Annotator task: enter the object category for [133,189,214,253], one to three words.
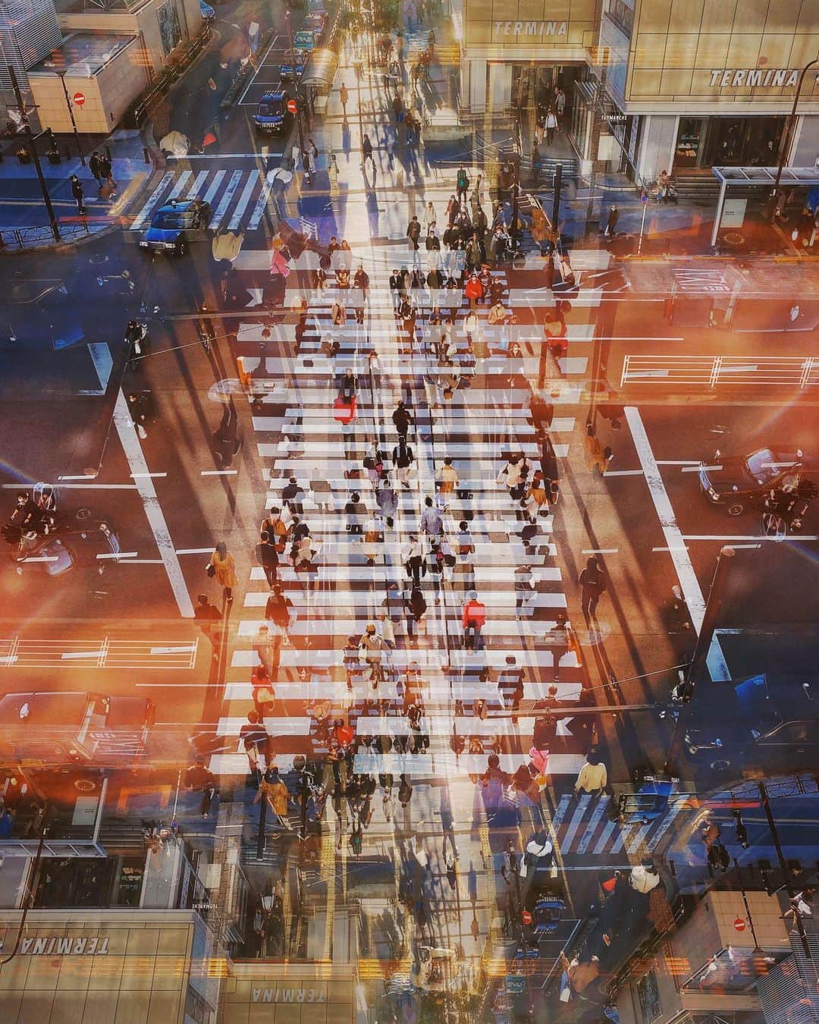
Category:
car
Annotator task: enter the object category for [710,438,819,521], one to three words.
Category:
car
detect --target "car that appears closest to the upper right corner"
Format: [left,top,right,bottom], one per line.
[673,239,819,327]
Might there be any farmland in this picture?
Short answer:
No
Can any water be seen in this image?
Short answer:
No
